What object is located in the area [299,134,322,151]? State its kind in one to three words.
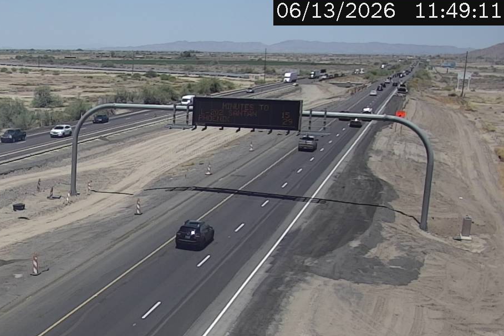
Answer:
vehicle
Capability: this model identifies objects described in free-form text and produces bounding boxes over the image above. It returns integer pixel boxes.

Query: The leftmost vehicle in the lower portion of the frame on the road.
[175,216,217,249]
